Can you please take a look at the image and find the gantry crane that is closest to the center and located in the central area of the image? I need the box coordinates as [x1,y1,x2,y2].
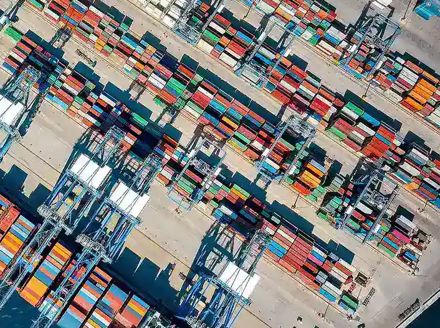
[163,142,229,210]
